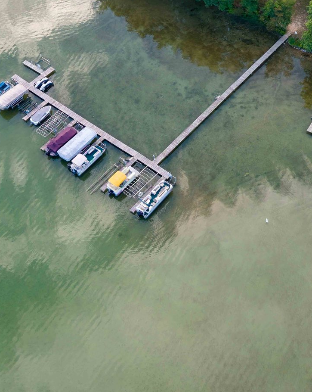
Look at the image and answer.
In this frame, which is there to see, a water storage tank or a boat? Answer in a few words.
boat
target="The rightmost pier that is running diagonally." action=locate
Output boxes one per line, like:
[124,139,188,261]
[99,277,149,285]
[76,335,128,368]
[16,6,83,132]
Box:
[150,34,292,166]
